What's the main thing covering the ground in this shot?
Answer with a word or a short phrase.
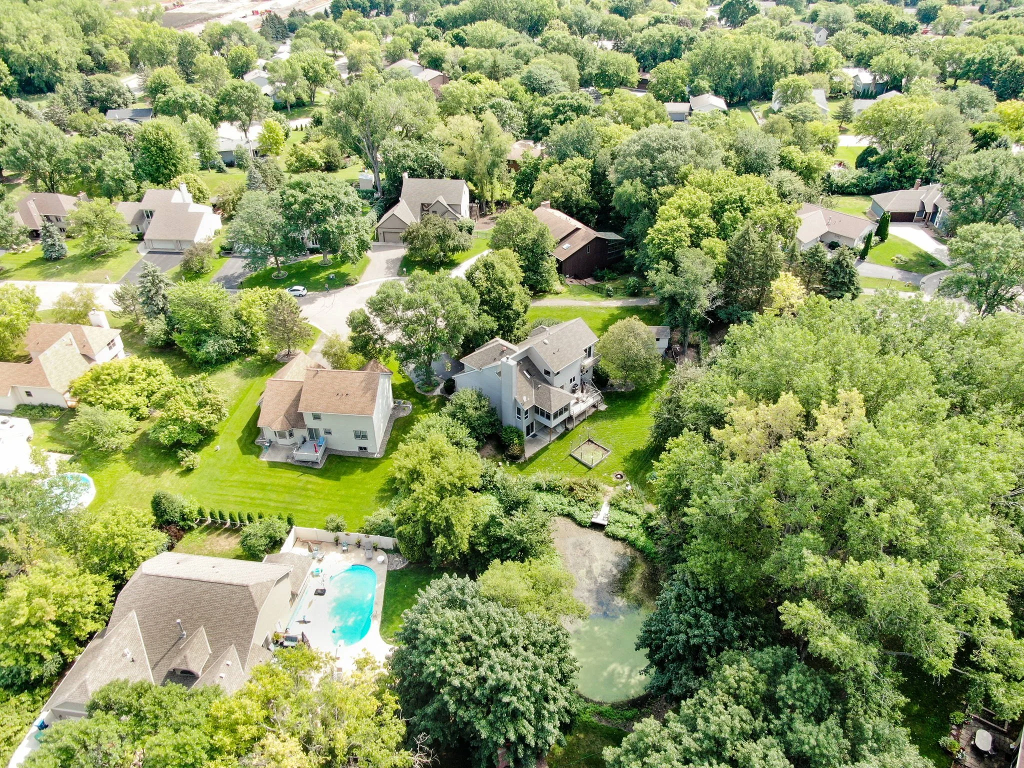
trees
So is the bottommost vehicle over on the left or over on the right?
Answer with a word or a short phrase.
left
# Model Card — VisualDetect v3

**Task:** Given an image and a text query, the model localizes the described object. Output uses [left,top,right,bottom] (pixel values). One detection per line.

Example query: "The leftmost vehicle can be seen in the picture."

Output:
[0,416,36,448]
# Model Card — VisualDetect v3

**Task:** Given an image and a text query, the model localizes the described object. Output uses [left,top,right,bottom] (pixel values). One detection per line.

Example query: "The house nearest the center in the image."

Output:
[454,313,617,444]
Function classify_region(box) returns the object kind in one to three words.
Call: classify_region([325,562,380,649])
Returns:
swimming pool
